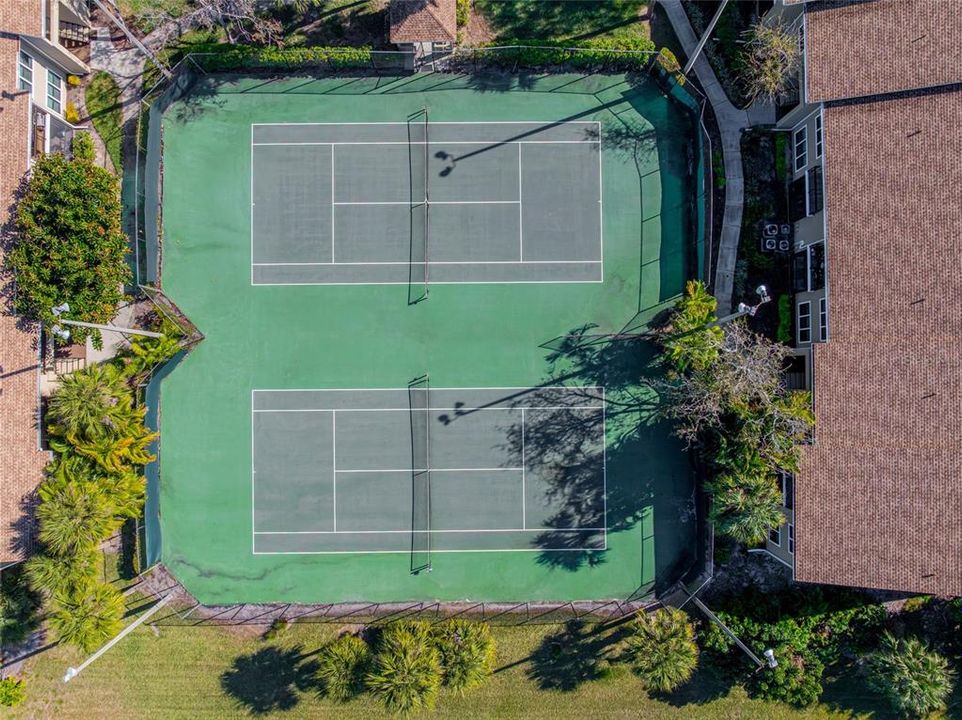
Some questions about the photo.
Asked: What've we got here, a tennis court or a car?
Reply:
tennis court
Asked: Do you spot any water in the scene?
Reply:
No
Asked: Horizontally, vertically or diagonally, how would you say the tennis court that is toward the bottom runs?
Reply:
horizontally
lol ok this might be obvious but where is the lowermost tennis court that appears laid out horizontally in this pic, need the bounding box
[253,387,606,554]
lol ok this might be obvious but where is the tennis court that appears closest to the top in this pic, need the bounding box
[252,122,602,285]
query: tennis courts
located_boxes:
[253,387,606,554]
[252,122,602,285]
